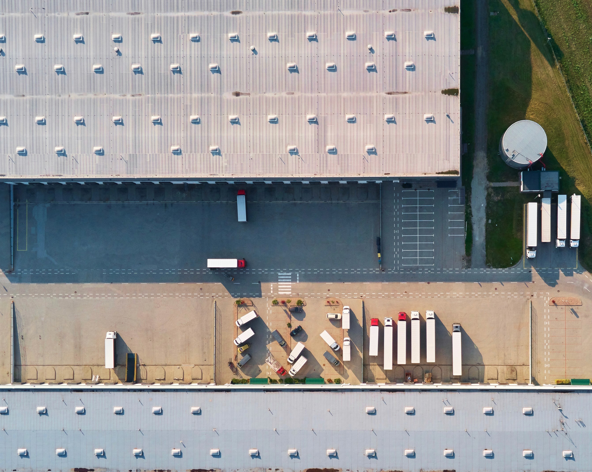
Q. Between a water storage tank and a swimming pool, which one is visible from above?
water storage tank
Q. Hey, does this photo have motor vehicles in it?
Yes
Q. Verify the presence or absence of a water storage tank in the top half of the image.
Yes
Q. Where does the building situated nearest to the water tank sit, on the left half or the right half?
right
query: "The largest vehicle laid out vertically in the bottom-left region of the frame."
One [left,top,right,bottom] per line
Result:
[105,330,118,368]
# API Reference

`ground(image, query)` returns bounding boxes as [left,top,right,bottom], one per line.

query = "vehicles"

[288,342,305,364]
[237,188,248,222]
[290,325,303,336]
[265,356,287,377]
[343,338,351,362]
[568,195,580,249]
[319,330,340,351]
[105,330,118,368]
[207,259,247,268]
[396,311,407,364]
[324,351,340,366]
[236,311,258,327]
[327,313,342,319]
[237,353,252,367]
[555,195,566,248]
[410,310,420,363]
[383,316,393,369]
[238,343,250,353]
[526,202,537,258]
[342,305,350,329]
[289,355,307,375]
[451,322,461,376]
[272,329,287,346]
[426,310,435,363]
[369,317,378,356]
[234,327,255,346]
